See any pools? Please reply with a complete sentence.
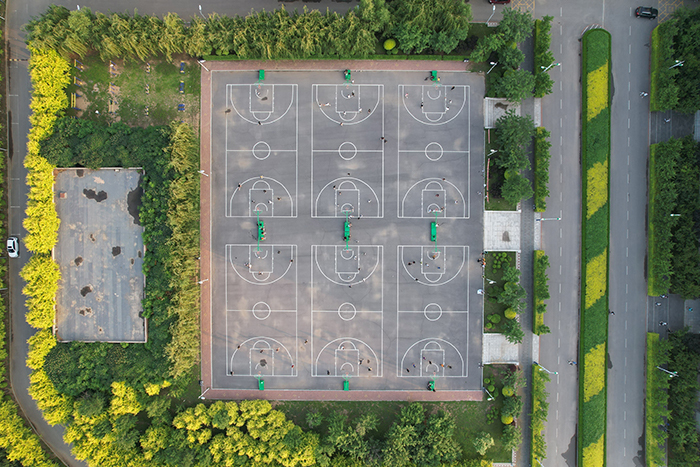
No, I find no pool anywhere in the image.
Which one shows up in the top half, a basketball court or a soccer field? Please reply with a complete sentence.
What appears in the top half is a basketball court.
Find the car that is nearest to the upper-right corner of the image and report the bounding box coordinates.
[634,8,656,20]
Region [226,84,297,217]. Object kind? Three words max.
basketball court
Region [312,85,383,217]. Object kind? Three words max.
basketball court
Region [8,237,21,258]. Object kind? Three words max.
vehicle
